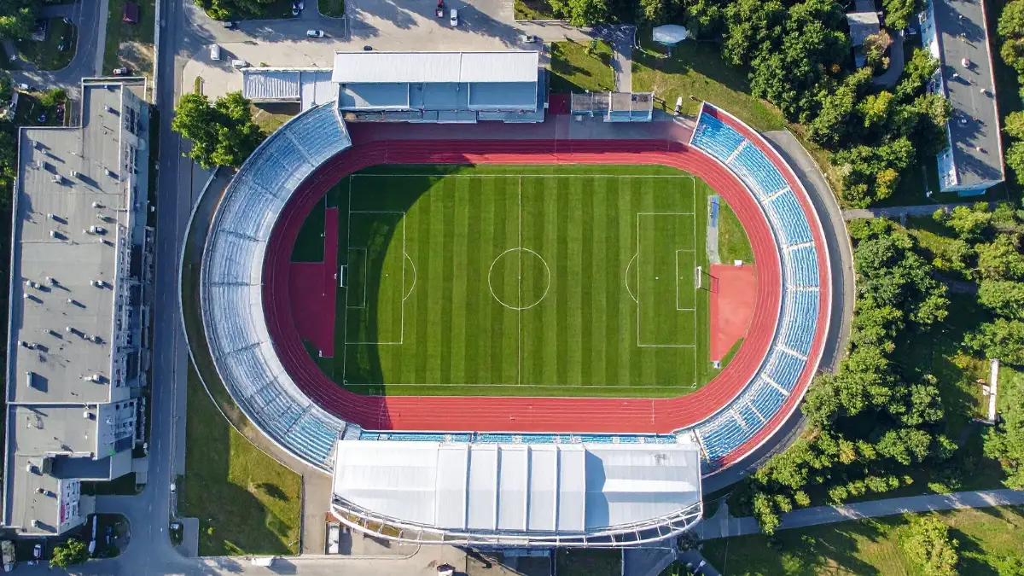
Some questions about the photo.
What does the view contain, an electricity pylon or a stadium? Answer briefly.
stadium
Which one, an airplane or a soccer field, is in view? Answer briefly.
soccer field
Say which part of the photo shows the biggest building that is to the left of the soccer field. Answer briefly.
left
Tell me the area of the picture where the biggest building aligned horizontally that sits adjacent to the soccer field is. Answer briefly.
top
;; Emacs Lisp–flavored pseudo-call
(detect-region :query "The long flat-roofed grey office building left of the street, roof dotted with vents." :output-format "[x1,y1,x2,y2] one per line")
[3,77,157,535]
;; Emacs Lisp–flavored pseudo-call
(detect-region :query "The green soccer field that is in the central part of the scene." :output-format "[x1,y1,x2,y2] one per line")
[288,163,757,396]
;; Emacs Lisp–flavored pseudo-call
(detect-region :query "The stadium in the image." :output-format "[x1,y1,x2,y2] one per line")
[201,100,831,546]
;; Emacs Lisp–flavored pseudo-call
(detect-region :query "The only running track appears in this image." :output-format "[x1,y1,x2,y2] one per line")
[263,119,781,431]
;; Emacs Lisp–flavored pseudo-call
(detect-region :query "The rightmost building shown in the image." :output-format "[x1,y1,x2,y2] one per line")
[911,0,1005,197]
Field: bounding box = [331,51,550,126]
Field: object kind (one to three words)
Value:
building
